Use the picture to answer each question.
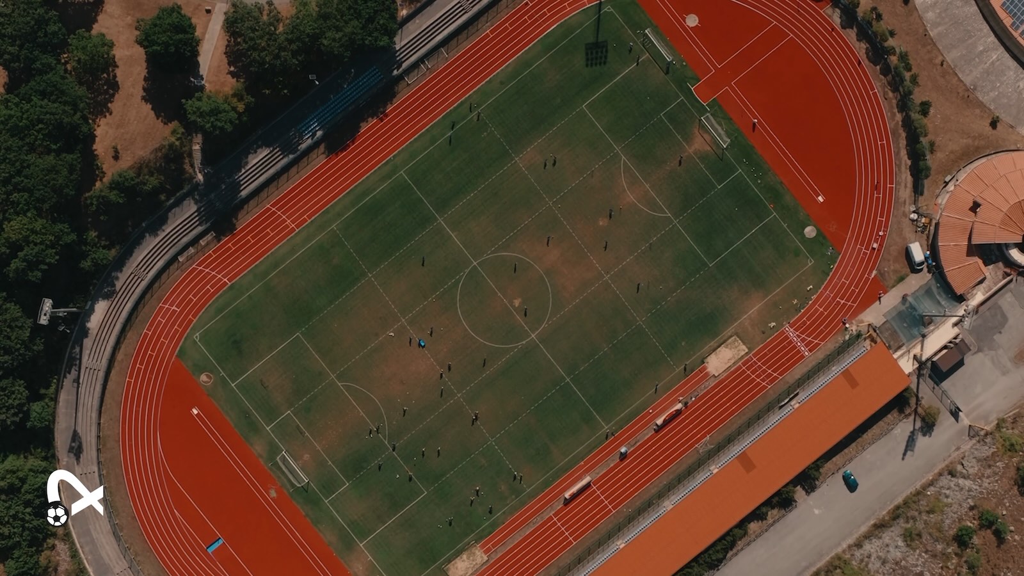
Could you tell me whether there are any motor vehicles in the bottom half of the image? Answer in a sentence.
Yes, a motor vehicle appears in the bottom half of the image.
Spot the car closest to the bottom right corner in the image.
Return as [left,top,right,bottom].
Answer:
[843,471,859,492]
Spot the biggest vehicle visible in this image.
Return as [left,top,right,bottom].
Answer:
[908,243,925,270]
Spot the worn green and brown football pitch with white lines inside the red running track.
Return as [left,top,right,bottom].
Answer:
[177,0,840,576]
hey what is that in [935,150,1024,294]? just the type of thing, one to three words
building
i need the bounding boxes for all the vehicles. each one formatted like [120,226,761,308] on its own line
[908,243,925,270]
[843,471,859,492]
